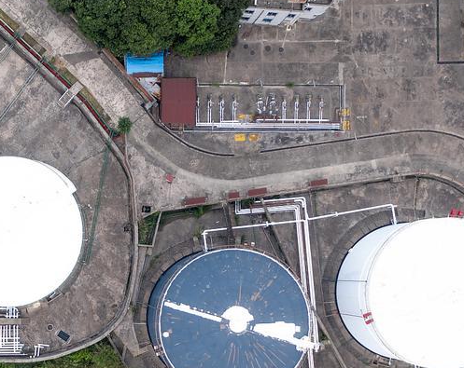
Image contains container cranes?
No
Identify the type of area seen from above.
industrial area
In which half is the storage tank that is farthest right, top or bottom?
bottom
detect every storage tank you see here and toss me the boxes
[0,154,86,311]
[141,245,328,368]
[329,211,464,368]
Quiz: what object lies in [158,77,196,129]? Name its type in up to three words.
shed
